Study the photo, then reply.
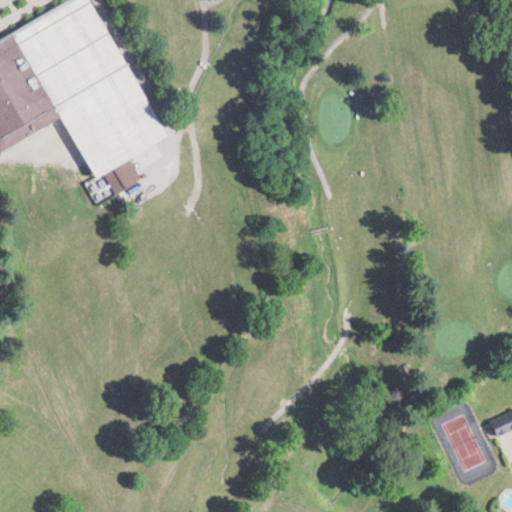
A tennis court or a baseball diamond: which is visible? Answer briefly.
tennis court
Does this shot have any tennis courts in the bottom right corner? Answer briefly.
Yes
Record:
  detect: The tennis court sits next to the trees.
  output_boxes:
[434,404,496,485]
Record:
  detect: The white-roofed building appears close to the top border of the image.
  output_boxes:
[0,0,168,194]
